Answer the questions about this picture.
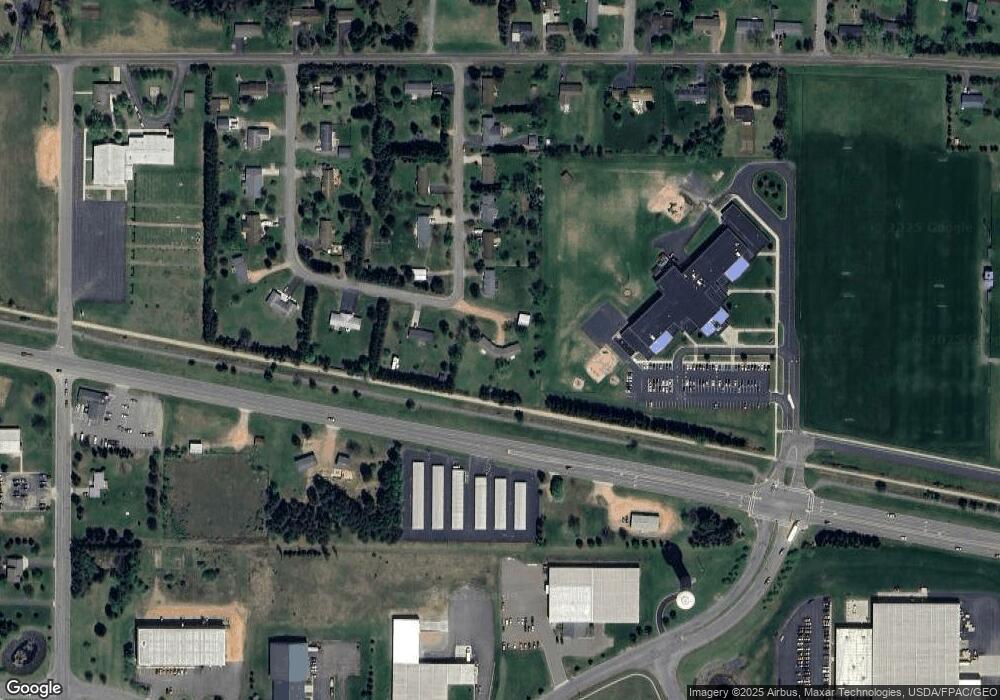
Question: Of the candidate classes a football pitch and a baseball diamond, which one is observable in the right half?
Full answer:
The one visible in the right half is a football pitch.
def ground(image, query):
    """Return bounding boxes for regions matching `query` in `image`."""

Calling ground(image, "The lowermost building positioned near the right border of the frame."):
[836,599,981,700]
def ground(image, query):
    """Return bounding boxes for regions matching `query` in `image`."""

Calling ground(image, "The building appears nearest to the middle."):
[479,335,522,357]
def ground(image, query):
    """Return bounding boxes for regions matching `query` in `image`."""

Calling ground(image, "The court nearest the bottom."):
[582,304,633,370]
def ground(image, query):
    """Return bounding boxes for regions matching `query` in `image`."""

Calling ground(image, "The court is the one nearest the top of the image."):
[652,197,711,268]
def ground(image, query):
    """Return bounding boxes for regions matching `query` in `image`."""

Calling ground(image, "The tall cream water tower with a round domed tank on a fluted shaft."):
[678,573,696,610]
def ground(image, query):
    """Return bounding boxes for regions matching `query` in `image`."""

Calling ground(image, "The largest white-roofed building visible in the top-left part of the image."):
[94,128,174,185]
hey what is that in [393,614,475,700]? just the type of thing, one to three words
building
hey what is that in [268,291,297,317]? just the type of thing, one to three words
house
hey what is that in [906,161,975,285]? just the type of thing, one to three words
soccer field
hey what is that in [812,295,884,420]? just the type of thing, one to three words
soccer field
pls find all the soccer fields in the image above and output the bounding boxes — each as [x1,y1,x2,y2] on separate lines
[812,148,884,273]
[906,306,975,432]
[812,295,884,420]
[906,161,975,285]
